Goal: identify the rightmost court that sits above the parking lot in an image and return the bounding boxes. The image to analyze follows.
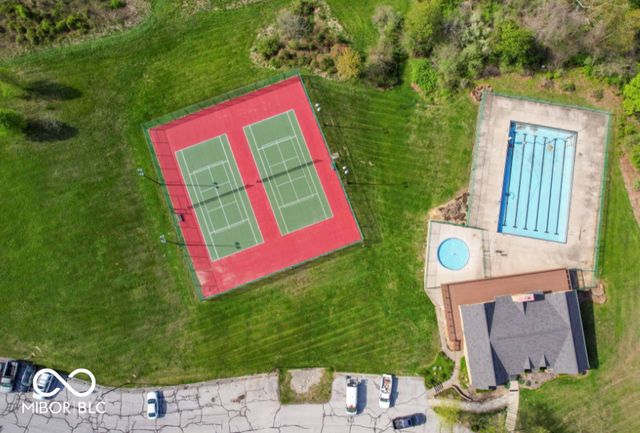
[228,75,361,266]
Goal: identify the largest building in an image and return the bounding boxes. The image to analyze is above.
[458,289,591,389]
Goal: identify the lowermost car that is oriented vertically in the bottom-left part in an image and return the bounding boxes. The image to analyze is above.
[146,391,159,419]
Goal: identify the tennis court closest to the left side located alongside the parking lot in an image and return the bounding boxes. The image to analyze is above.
[149,100,287,296]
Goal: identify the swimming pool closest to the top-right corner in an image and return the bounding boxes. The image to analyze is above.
[495,119,579,245]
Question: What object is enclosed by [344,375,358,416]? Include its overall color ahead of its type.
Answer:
white vehicle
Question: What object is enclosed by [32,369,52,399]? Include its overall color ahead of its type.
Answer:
white vehicle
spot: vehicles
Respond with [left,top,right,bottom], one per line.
[32,369,52,399]
[146,391,159,419]
[376,373,394,409]
[344,375,358,416]
[392,411,428,432]
[1,359,21,393]
[18,365,36,392]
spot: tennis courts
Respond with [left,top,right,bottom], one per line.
[149,100,287,296]
[228,75,361,266]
